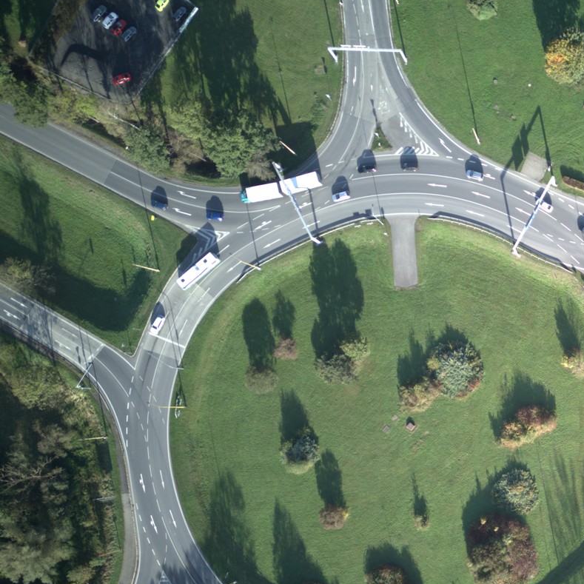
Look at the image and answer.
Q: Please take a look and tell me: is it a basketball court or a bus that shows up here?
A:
bus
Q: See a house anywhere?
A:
No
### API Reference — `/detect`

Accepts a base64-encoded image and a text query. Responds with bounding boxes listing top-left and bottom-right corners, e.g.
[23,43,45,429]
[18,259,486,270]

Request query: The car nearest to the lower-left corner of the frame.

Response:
[148,312,163,332]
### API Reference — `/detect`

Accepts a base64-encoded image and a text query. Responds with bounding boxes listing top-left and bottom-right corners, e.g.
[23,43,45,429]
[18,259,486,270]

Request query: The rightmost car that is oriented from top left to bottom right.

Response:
[538,198,556,213]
